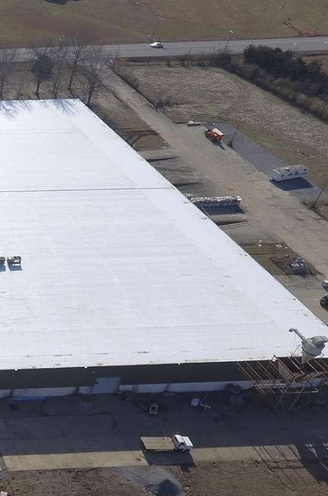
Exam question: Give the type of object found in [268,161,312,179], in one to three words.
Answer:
vehicle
